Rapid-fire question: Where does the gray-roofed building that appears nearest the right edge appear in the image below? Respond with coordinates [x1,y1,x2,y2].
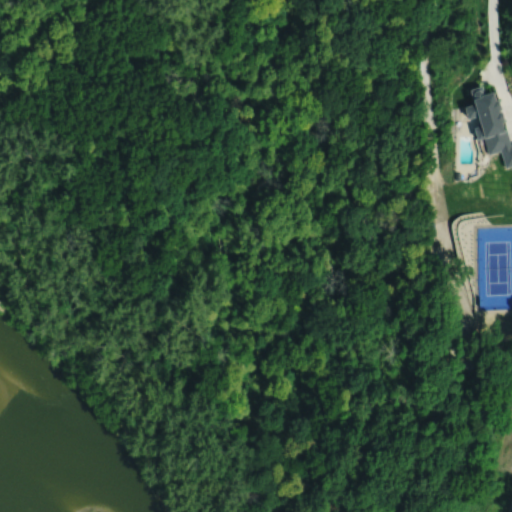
[466,88,512,167]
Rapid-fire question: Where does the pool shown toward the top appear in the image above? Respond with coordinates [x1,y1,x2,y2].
[460,137,474,164]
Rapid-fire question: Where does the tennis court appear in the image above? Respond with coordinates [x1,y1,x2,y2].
[474,226,512,314]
